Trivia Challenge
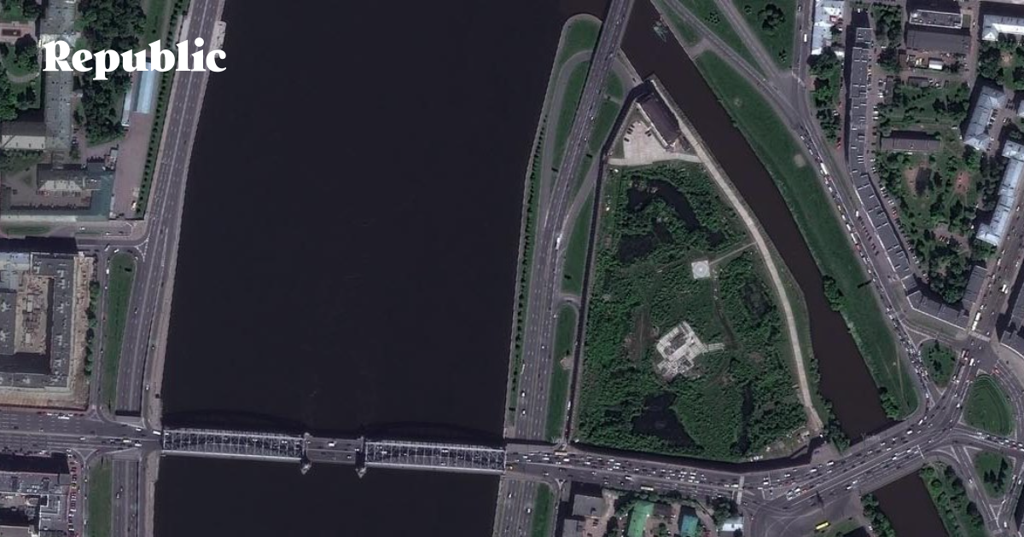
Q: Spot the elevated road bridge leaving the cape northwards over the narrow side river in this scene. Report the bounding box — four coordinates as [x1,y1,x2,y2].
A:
[555,0,637,177]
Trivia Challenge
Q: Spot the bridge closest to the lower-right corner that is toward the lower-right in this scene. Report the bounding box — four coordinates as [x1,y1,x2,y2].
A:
[841,404,930,494]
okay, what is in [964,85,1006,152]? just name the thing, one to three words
building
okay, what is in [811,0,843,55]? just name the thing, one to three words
house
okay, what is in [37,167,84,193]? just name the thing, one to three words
house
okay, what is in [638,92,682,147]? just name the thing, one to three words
building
